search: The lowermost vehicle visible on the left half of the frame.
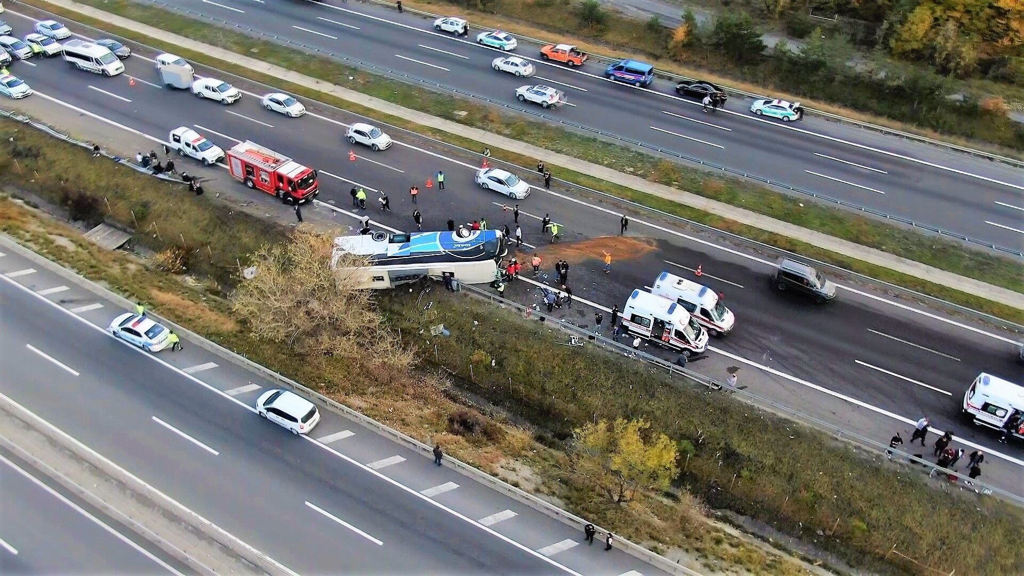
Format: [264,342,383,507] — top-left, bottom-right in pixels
[253,389,324,438]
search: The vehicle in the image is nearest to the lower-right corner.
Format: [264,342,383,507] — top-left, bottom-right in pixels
[962,367,1024,436]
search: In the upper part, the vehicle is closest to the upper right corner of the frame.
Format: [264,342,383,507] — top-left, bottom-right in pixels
[749,99,800,125]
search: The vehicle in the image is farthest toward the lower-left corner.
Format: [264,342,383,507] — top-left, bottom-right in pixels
[108,311,173,356]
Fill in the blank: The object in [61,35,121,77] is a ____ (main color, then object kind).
white vehicle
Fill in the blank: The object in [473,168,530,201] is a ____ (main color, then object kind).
white car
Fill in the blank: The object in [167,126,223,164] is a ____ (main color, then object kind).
white truck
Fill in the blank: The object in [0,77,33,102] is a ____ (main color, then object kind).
white car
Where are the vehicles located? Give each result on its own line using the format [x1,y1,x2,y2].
[260,93,306,119]
[648,268,737,336]
[61,35,121,77]
[604,60,657,90]
[962,367,1024,436]
[673,80,727,106]
[431,16,471,38]
[193,77,238,105]
[0,49,14,67]
[514,86,562,112]
[223,139,318,206]
[0,77,33,102]
[749,99,800,125]
[618,287,710,357]
[767,256,840,303]
[167,126,223,164]
[539,44,590,69]
[0,19,17,36]
[344,122,392,152]
[475,31,518,53]
[33,21,73,42]
[0,35,34,61]
[253,389,324,438]
[151,52,195,75]
[21,32,63,58]
[473,168,530,201]
[490,58,535,81]
[108,311,173,356]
